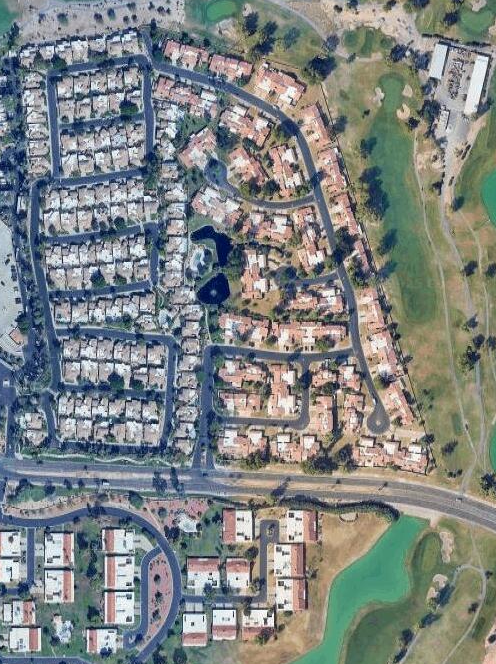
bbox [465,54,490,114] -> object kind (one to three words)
shed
